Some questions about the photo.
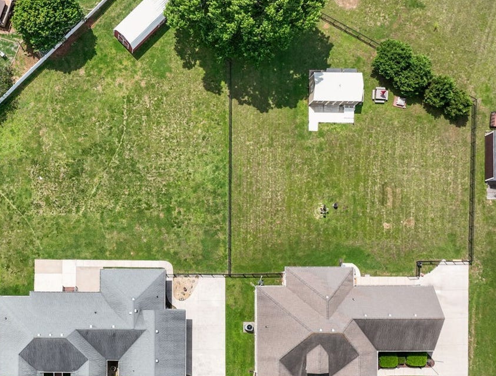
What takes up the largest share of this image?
grass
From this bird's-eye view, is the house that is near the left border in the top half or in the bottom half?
bottom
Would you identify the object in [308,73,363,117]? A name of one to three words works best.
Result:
building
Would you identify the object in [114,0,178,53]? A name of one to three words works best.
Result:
shed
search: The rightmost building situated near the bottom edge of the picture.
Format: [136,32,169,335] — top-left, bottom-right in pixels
[255,267,444,376]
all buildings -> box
[308,73,363,117]
[114,0,178,53]
[0,268,187,376]
[255,267,444,376]
[486,130,496,180]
